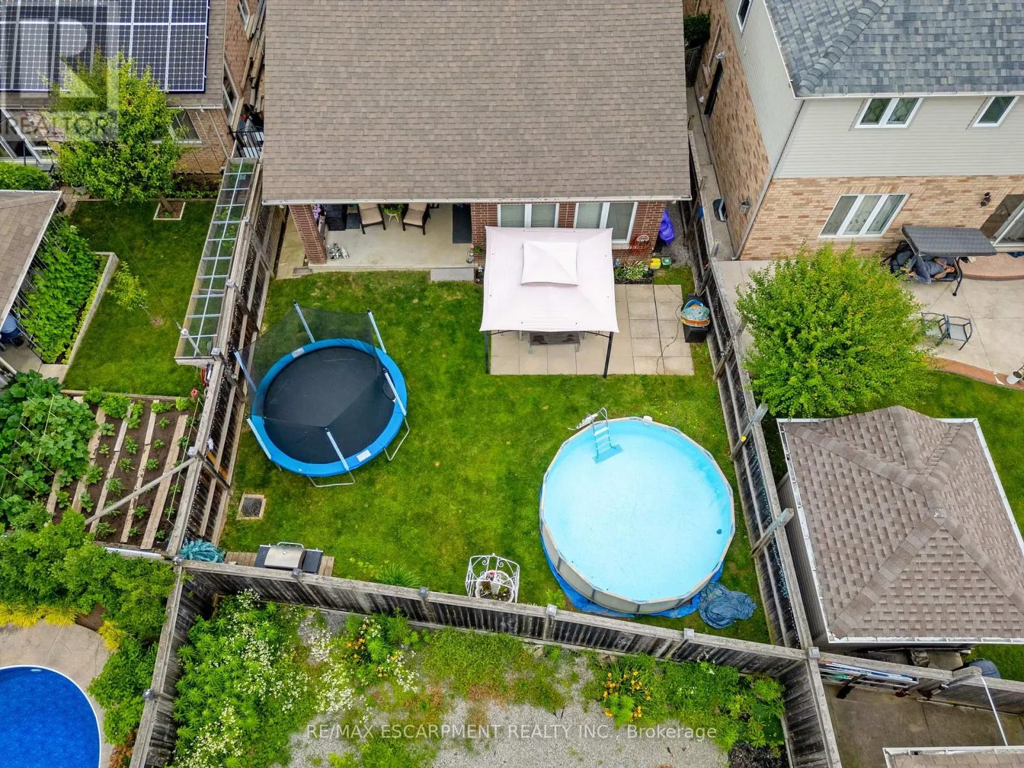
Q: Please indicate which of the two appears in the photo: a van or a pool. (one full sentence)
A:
The one in the frame is a pool.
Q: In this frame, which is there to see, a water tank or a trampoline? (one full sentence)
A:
This aerial view contains a trampoline.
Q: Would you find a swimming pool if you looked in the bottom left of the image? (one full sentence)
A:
Yes, looking in the bottom left of the image, one can make out a swimming pool.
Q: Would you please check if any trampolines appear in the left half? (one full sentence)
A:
Yes, a trampoline shows up in the left half.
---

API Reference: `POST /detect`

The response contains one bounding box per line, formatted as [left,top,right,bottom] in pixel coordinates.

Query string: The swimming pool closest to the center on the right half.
[538,416,735,615]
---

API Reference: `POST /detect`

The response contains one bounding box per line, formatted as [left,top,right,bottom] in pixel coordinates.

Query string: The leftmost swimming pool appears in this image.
[0,665,102,768]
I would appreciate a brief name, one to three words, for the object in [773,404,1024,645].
building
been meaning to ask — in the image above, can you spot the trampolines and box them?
[233,301,409,490]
